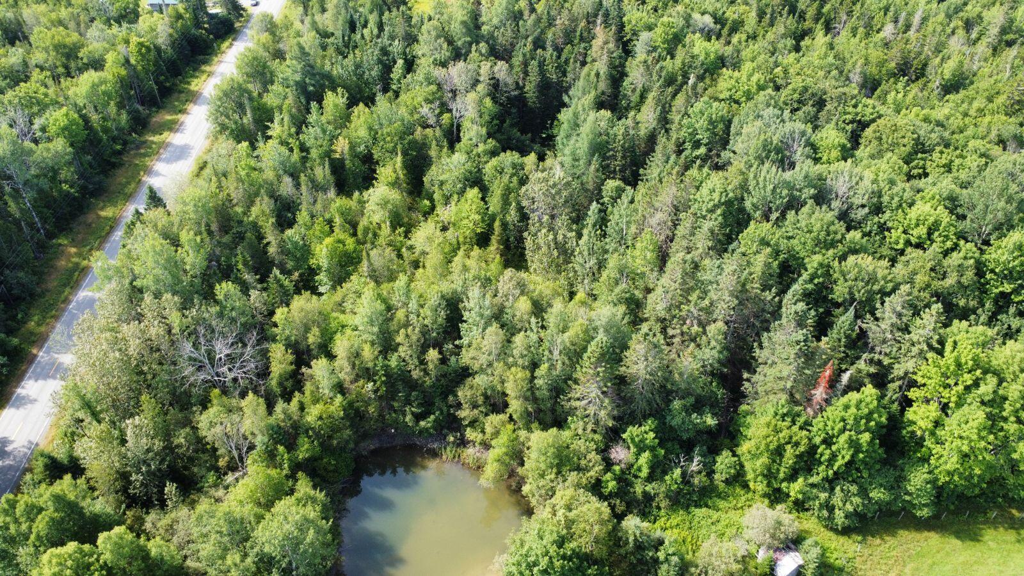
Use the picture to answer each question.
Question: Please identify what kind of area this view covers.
forest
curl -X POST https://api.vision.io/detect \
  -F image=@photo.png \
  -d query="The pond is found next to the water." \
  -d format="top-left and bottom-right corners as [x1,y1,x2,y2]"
[337,448,528,576]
